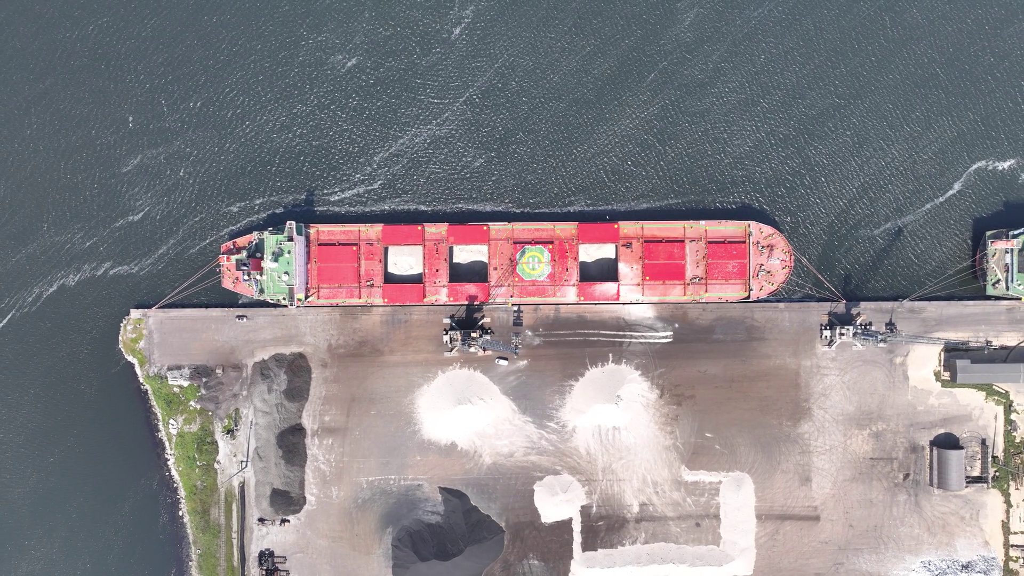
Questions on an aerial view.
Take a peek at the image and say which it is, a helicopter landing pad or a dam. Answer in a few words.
helicopter landing pad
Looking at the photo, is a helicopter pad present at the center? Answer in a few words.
Yes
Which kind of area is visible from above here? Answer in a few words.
port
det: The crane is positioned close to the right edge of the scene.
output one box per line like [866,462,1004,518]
[820,314,998,351]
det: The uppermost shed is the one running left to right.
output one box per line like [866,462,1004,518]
[946,356,1024,384]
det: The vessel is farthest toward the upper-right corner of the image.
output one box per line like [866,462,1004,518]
[975,223,1024,302]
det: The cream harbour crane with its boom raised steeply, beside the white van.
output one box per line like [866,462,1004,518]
[442,317,521,357]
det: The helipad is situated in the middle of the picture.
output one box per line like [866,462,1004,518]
[497,227,569,298]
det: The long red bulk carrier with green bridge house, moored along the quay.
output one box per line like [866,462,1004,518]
[213,219,795,310]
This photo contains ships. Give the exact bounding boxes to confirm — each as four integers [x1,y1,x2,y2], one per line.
[213,219,795,310]
[975,223,1024,302]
